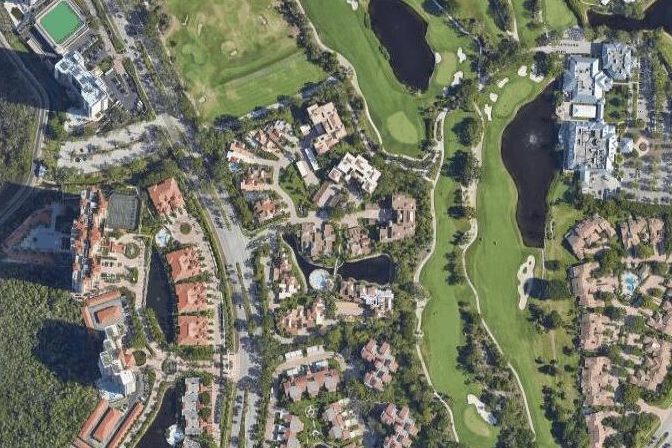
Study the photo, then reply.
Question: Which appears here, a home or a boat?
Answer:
home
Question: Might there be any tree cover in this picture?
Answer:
Yes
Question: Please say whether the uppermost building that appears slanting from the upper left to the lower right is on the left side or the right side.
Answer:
left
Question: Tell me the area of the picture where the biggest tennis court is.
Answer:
left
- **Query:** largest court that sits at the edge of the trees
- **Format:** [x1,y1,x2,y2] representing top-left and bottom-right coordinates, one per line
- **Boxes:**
[108,192,138,229]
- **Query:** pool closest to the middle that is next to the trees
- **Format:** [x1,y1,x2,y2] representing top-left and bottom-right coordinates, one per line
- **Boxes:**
[309,270,328,289]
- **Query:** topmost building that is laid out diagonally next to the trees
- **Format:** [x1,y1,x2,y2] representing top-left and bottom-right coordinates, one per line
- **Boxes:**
[53,48,113,120]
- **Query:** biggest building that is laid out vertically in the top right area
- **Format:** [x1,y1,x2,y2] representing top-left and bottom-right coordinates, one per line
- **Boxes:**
[560,42,637,195]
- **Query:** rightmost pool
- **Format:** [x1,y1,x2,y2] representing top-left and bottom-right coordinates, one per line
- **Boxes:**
[622,272,638,294]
